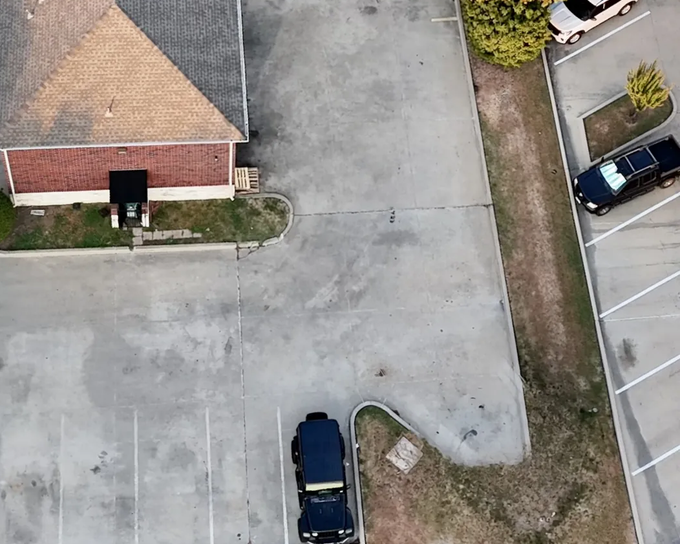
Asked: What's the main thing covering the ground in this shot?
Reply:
paved ground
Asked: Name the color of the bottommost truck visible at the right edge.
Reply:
black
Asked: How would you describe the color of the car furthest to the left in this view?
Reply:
black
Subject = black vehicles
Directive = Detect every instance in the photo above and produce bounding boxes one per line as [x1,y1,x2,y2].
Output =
[567,131,680,216]
[291,409,352,542]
